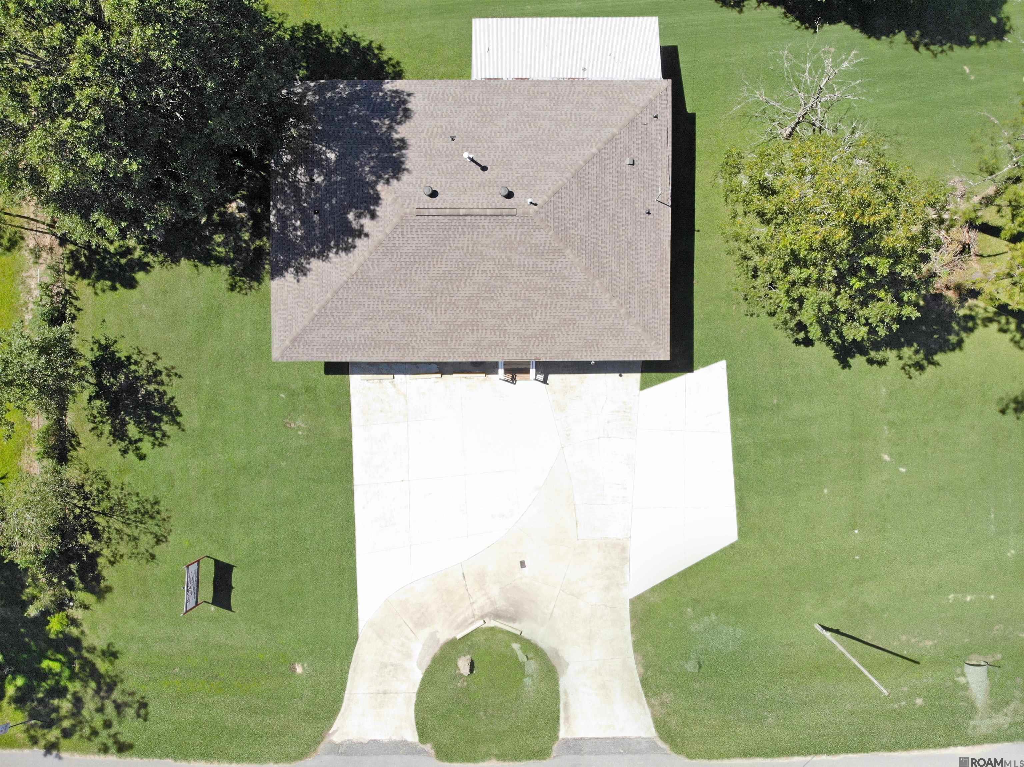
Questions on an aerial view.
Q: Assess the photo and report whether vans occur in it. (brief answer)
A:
No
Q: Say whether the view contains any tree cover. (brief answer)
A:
Yes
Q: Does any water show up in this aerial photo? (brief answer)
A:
No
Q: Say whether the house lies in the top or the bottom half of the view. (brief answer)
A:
top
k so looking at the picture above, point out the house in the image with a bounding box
[269,77,673,363]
